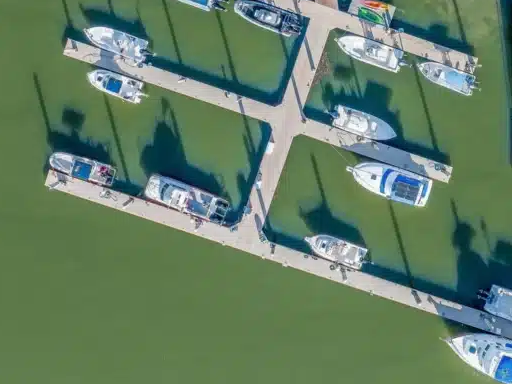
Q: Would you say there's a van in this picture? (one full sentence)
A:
No, the frame has no van in it.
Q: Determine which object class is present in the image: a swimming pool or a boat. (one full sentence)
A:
Looking from above, you can make out a boat.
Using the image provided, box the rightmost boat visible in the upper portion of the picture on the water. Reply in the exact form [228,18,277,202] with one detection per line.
[419,49,490,103]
